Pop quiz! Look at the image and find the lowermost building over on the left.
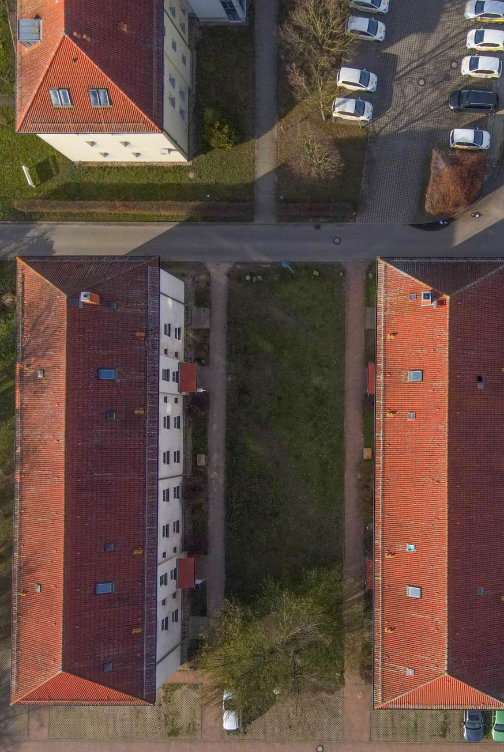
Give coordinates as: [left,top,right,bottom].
[9,255,201,707]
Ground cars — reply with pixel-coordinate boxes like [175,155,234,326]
[449,88,498,115]
[345,16,386,43]
[450,126,490,150]
[337,68,379,94]
[491,711,504,747]
[466,0,504,25]
[466,27,504,54]
[461,54,502,80]
[218,687,242,734]
[462,711,485,747]
[332,97,373,123]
